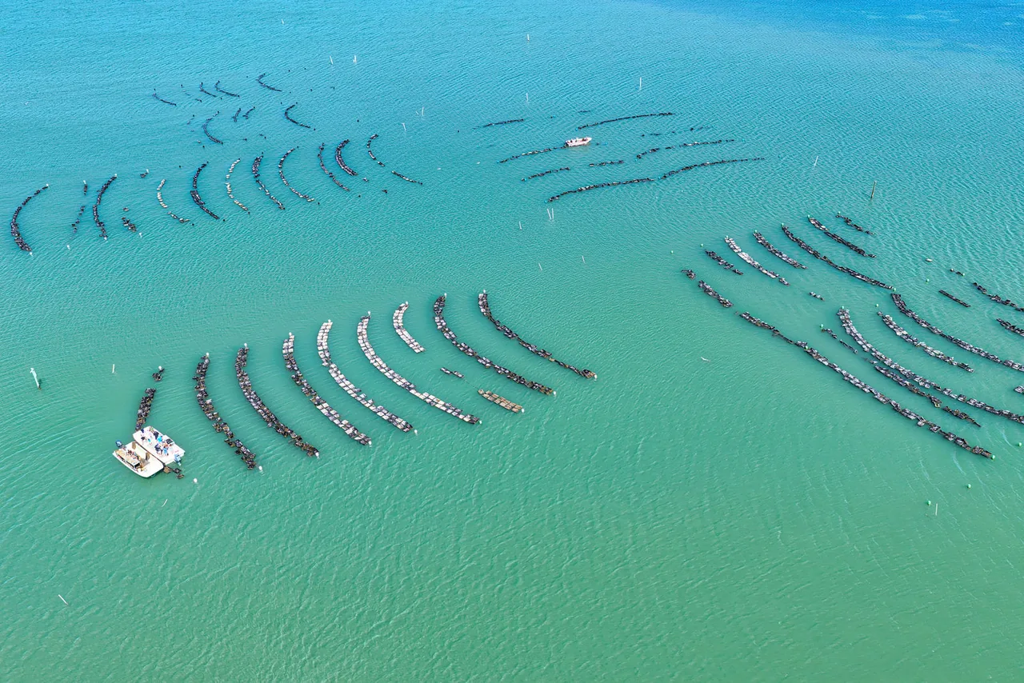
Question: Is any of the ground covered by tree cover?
No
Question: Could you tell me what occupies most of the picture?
water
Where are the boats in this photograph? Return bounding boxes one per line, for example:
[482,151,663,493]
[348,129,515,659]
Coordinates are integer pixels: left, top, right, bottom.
[113,441,165,479]
[132,425,186,466]
[561,139,591,150]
